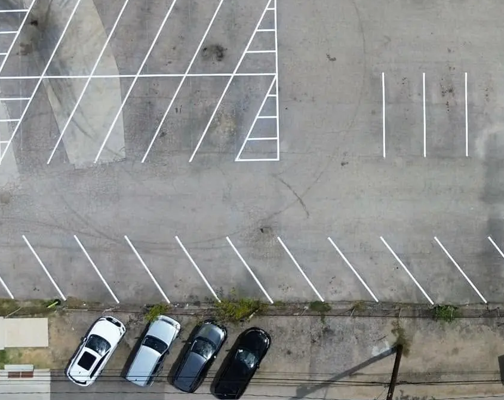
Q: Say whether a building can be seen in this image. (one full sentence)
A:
No, no building can be seen from above.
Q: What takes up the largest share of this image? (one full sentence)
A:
What you mostly see from above here is paved ground.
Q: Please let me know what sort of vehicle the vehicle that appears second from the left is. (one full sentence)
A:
Looking closely, the vehicle that appears second from the left is an automobile.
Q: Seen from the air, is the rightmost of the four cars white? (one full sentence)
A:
No, from above the rightmost of the four cars looks black.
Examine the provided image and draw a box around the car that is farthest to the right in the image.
[215,322,273,400]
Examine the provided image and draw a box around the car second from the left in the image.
[125,310,183,388]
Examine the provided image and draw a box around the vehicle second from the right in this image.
[173,316,227,393]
